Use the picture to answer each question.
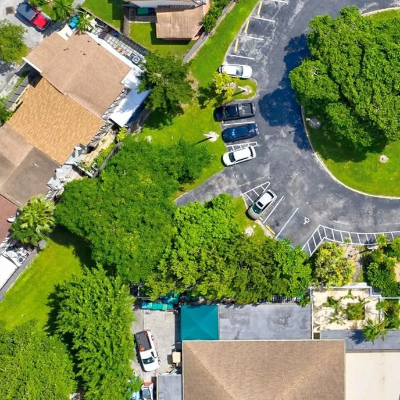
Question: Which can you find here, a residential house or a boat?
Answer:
residential house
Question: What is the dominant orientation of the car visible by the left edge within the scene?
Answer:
diagonally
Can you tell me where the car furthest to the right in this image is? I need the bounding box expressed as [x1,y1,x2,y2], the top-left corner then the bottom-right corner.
[251,187,277,221]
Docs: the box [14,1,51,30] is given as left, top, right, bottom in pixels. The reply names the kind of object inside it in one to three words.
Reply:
car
